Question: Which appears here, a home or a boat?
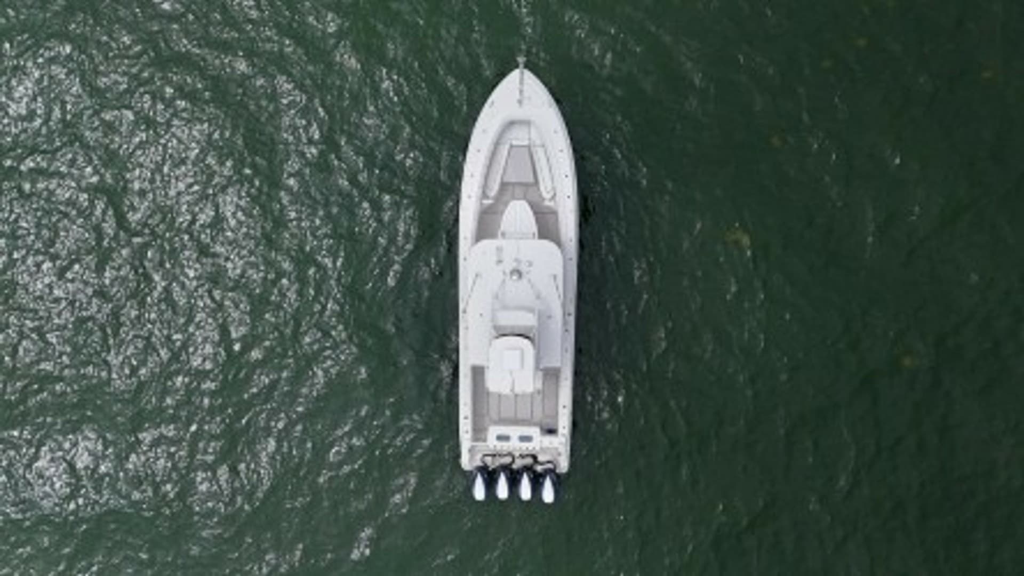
boat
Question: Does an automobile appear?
No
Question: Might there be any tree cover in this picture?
No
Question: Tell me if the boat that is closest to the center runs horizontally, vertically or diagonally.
vertically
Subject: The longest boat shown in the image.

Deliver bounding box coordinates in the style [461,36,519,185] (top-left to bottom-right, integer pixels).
[459,63,579,503]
